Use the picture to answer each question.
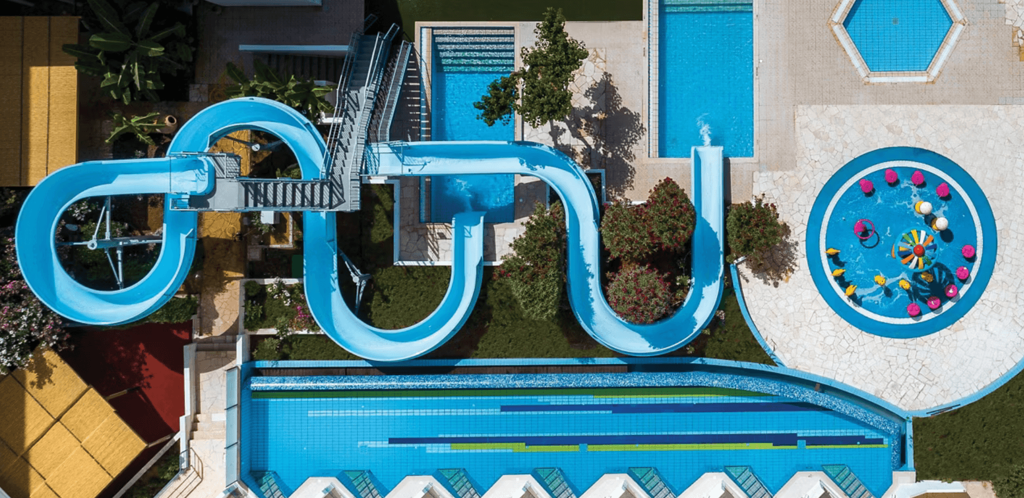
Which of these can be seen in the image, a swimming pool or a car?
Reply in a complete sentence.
Of the two, only a swimming pool appears.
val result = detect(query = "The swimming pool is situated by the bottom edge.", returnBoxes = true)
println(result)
[239,358,913,498]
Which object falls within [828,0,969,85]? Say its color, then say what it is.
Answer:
blue swimming pool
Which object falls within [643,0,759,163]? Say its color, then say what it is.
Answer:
blue swimming pool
